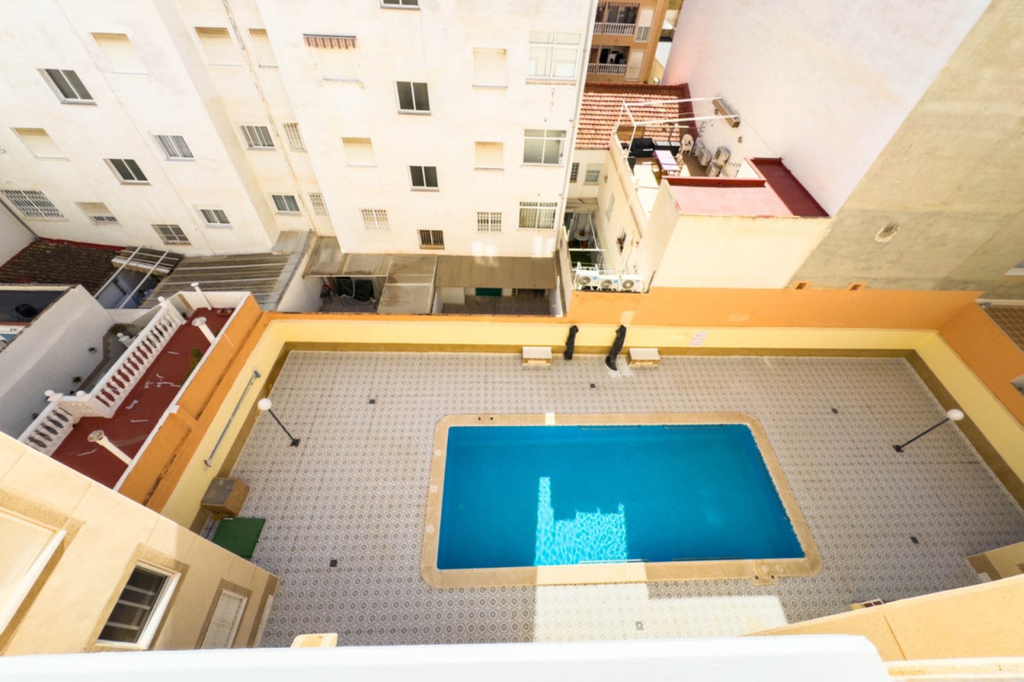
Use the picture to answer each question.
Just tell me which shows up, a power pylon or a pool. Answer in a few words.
pool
